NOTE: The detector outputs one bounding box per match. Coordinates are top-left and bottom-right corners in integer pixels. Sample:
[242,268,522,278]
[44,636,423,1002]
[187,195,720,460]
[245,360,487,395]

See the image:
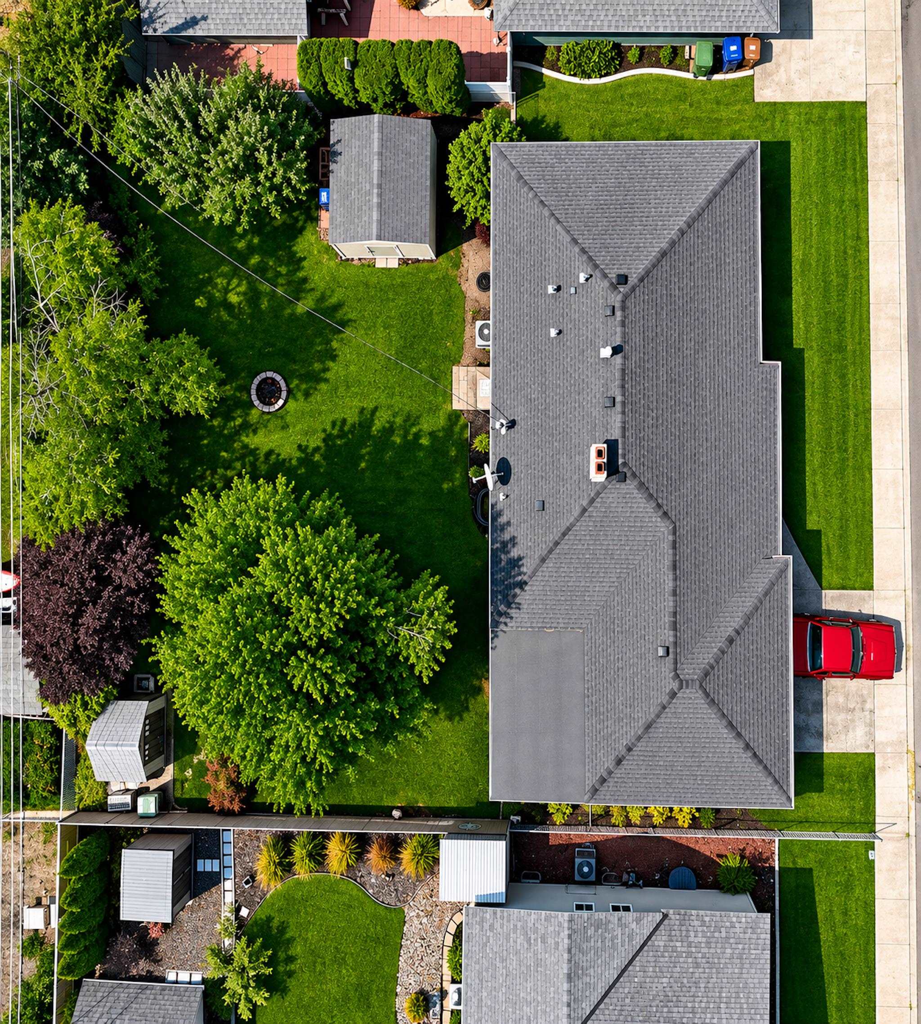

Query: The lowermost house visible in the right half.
[457,882,772,1024]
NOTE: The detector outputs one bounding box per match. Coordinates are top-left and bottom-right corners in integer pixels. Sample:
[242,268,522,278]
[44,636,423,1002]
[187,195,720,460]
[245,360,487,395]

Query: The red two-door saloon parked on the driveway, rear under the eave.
[797,618,897,683]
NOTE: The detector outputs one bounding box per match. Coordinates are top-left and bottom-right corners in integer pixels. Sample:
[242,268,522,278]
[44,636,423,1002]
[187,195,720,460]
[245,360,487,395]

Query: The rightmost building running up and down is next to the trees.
[488,139,797,808]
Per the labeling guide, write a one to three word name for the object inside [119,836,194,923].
shed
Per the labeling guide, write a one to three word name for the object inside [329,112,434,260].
shed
